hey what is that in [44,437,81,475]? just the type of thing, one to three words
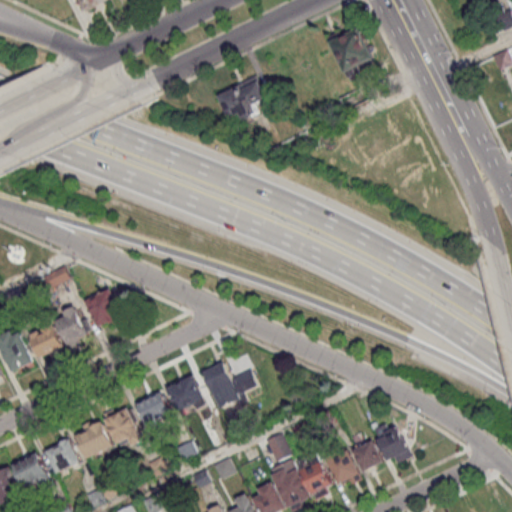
house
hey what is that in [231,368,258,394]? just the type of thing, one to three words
building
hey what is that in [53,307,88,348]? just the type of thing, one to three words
house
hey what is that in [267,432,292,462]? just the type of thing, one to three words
building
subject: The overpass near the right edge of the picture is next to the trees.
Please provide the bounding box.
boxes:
[476,238,512,415]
